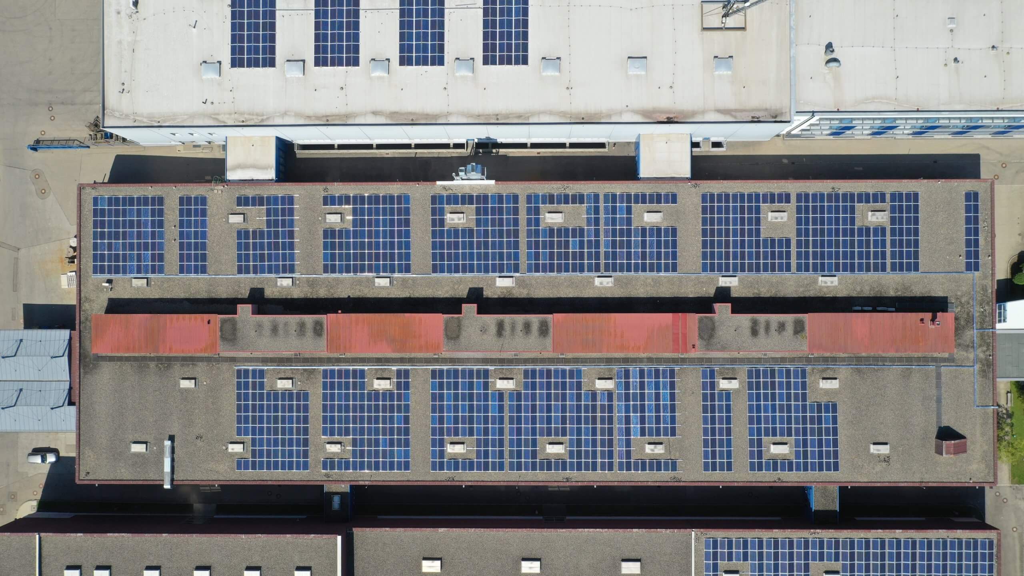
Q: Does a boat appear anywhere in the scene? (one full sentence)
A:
No, there appears to be no boat in this shot.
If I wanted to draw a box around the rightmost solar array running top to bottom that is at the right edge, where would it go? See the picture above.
[962,191,981,272]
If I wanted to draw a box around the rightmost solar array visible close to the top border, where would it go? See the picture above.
[482,0,528,66]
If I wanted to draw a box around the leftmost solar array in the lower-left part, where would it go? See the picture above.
[236,368,310,472]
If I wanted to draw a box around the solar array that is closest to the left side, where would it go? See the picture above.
[93,195,165,275]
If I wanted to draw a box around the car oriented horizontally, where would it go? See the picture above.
[26,451,60,465]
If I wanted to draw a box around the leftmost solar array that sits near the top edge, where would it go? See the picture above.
[231,0,276,68]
